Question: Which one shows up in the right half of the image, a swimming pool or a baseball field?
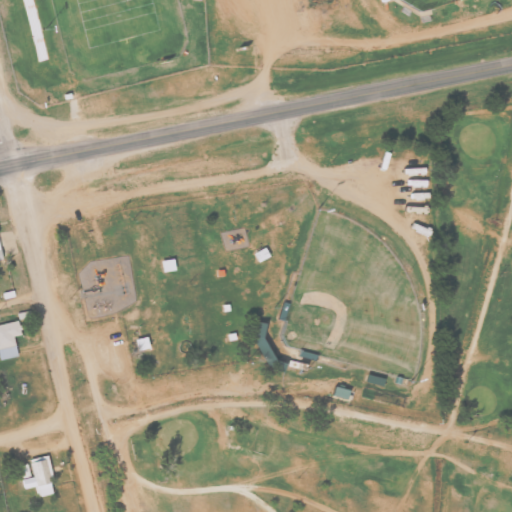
baseball field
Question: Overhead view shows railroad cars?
No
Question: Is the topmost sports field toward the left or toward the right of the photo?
left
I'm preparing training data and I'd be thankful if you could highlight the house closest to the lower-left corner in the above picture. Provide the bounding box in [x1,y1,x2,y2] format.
[24,458,54,498]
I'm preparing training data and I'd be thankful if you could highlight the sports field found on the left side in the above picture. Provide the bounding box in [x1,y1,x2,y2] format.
[74,0,164,52]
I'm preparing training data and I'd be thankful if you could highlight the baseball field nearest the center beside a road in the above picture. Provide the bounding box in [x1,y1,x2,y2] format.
[282,206,424,384]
